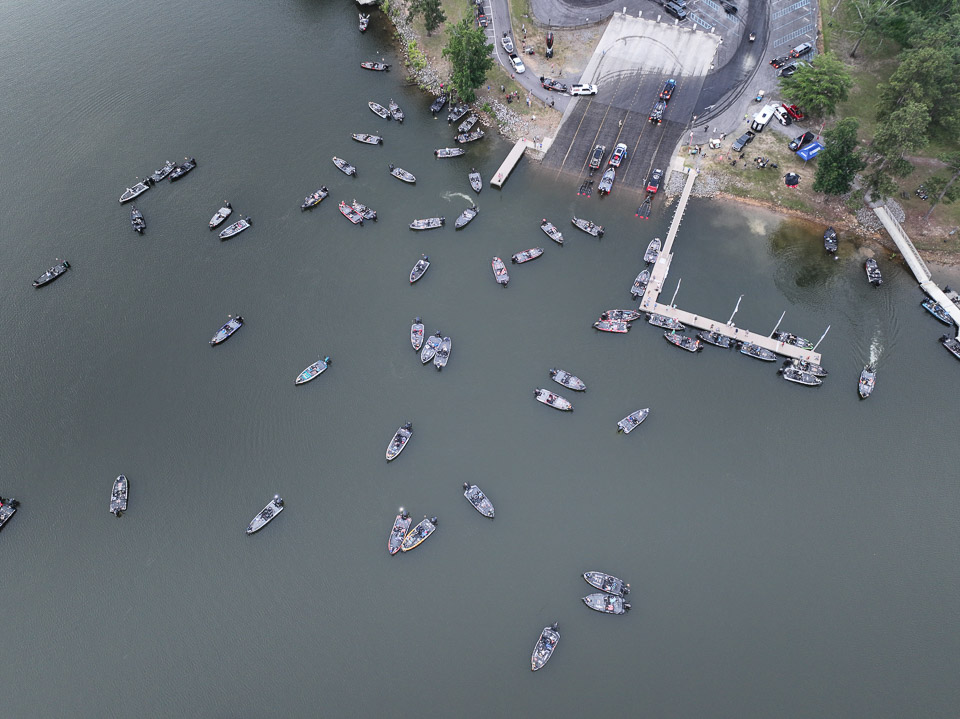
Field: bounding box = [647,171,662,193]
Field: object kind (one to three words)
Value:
vehicle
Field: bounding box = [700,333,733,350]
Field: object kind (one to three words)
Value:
boat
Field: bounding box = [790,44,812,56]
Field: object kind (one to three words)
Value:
vehicle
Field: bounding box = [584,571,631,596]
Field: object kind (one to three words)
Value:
boat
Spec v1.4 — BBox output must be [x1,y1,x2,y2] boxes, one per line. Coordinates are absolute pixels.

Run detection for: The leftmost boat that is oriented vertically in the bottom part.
[109,474,128,516]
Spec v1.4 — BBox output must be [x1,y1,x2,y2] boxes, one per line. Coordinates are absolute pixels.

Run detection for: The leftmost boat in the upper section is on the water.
[33,262,68,285]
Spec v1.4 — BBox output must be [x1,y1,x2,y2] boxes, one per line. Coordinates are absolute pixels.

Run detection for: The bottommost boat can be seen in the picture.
[532,625,559,669]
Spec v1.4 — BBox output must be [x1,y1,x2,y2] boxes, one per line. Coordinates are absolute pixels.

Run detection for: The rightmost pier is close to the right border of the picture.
[874,202,960,343]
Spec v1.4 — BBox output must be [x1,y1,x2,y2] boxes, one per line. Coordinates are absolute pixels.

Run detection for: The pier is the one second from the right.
[638,183,821,366]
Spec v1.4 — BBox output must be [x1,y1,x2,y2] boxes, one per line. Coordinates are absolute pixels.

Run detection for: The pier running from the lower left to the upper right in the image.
[490,140,527,188]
